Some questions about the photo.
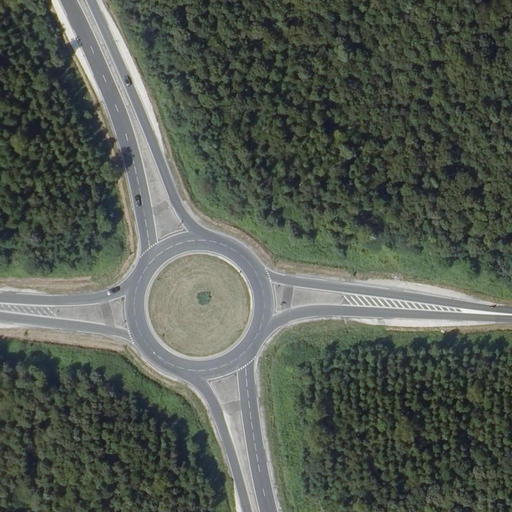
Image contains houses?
No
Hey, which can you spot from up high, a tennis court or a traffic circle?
traffic circle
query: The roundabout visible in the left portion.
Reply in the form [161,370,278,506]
[123,229,276,382]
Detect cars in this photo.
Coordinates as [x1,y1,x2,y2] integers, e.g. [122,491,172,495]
[136,195,142,206]
[108,287,120,294]
[124,75,132,86]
